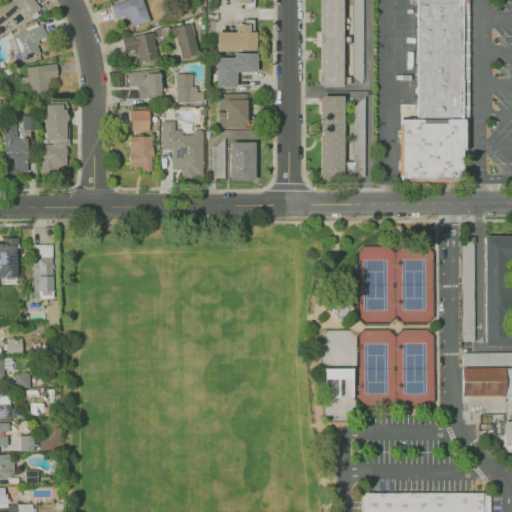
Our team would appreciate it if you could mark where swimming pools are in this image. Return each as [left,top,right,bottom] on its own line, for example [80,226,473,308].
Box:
[33,490,52,498]
[28,456,52,472]
[0,42,10,62]
[184,64,205,84]
[175,109,198,122]
[29,312,46,320]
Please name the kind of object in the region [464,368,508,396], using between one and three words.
building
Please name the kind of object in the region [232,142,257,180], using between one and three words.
house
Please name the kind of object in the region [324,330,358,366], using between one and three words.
basketball court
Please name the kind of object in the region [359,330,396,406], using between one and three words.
tennis court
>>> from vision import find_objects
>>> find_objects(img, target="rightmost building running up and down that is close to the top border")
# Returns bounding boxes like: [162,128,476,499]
[416,0,467,118]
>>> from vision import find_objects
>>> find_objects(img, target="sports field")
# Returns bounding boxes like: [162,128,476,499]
[64,242,314,512]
